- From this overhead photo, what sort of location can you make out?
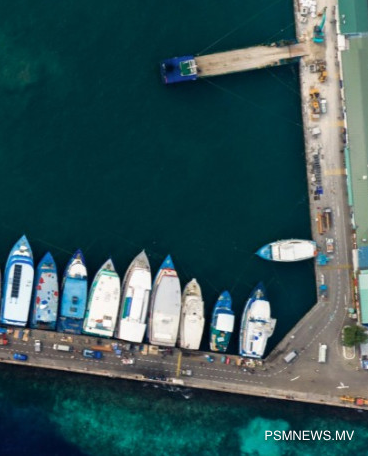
port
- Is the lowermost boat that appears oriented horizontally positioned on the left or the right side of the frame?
right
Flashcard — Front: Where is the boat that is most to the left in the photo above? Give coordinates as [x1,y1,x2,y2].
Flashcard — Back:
[1,235,34,327]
